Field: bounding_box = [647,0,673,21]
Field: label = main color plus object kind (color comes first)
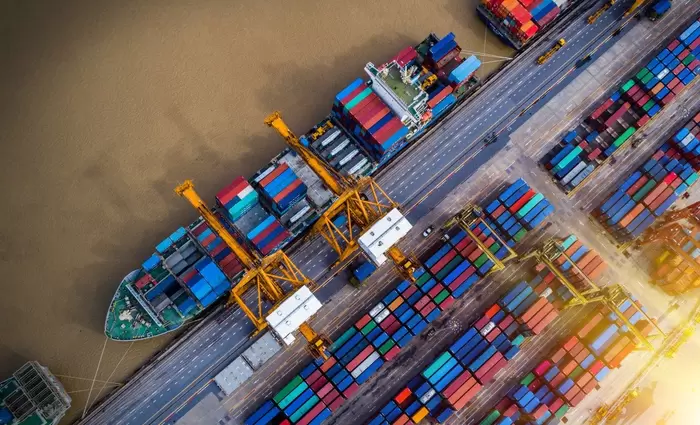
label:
blue truck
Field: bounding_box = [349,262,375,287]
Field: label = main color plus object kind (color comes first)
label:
blue truck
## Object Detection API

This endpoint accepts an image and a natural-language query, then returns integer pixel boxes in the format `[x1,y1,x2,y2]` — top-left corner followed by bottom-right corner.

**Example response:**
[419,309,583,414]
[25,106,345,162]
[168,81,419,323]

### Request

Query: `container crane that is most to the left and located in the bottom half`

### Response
[177,182,336,361]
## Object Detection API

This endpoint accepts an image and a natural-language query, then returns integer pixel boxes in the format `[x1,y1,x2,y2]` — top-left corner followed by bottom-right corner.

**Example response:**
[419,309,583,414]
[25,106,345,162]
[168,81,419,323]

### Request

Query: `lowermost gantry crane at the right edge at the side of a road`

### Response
[581,279,669,357]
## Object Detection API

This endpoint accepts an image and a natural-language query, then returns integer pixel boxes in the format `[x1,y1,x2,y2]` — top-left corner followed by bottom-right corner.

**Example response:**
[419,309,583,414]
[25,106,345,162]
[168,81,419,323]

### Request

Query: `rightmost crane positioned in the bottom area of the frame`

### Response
[632,218,700,301]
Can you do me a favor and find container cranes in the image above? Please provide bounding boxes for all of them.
[581,279,669,357]
[441,201,517,279]
[177,182,336,361]
[262,116,420,287]
[632,218,700,301]
[517,233,602,314]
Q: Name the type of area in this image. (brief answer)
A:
port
